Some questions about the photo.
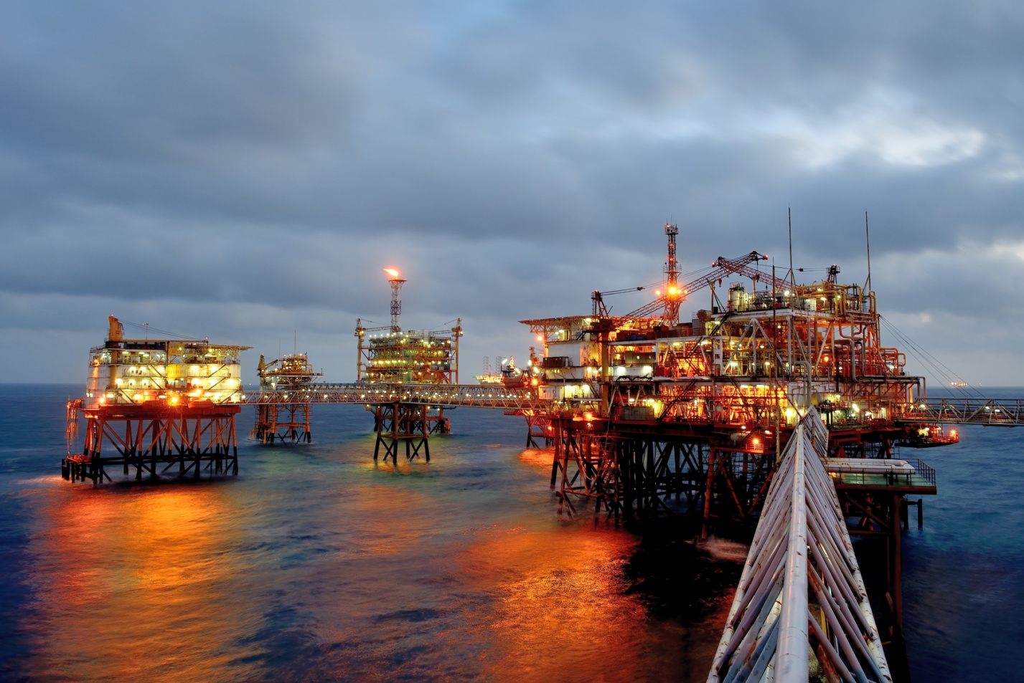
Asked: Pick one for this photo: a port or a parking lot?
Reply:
port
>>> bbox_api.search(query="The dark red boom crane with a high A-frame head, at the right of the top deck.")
[711,258,839,338]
